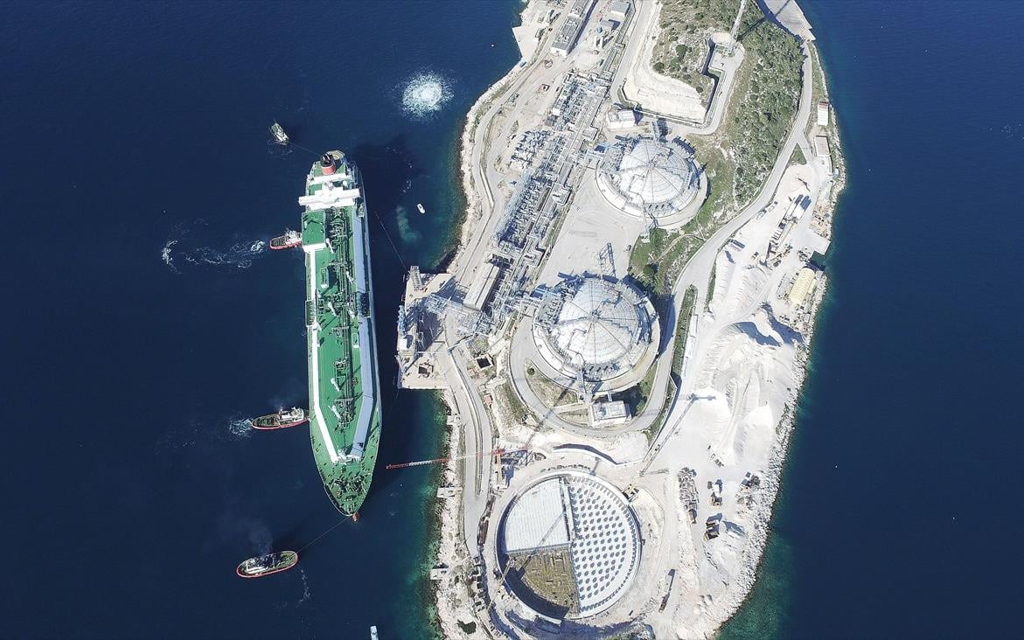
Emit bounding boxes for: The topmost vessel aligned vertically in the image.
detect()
[295,147,382,524]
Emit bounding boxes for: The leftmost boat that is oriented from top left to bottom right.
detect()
[269,123,289,144]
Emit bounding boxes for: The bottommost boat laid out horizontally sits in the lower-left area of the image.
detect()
[236,549,299,578]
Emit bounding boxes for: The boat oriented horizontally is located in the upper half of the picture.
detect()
[269,230,301,249]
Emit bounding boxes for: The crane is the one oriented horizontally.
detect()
[386,448,528,487]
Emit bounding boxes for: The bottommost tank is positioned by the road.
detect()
[494,460,643,621]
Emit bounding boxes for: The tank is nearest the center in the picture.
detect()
[531,249,662,395]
